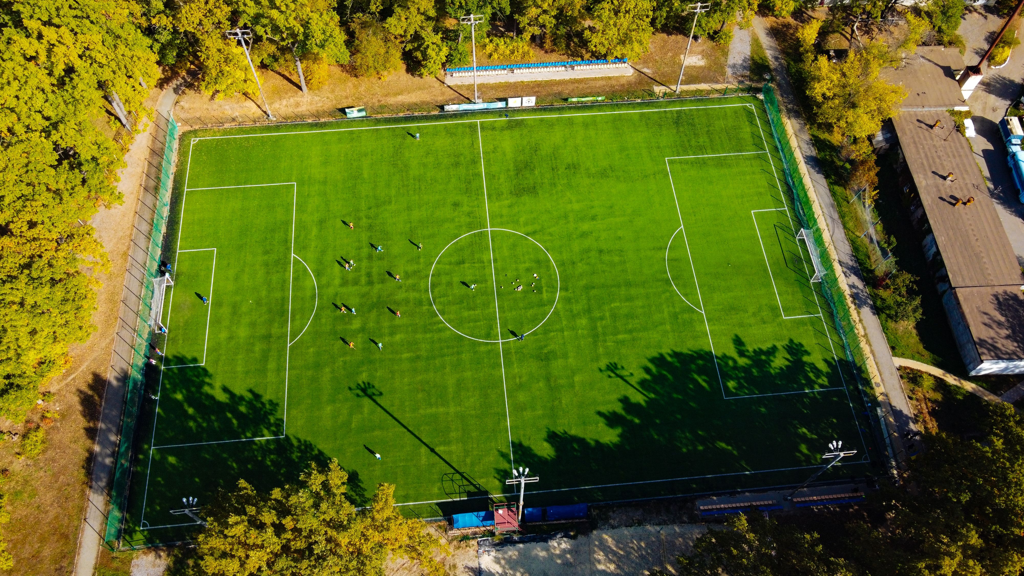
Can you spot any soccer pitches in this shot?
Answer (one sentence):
Yes, the photo shows a soccer pitch.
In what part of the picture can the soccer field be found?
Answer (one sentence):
The soccer field sits in the center section of the image.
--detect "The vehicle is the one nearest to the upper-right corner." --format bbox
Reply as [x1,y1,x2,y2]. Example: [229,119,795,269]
[997,116,1024,160]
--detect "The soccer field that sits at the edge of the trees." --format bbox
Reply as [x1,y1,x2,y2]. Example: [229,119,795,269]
[123,95,889,548]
